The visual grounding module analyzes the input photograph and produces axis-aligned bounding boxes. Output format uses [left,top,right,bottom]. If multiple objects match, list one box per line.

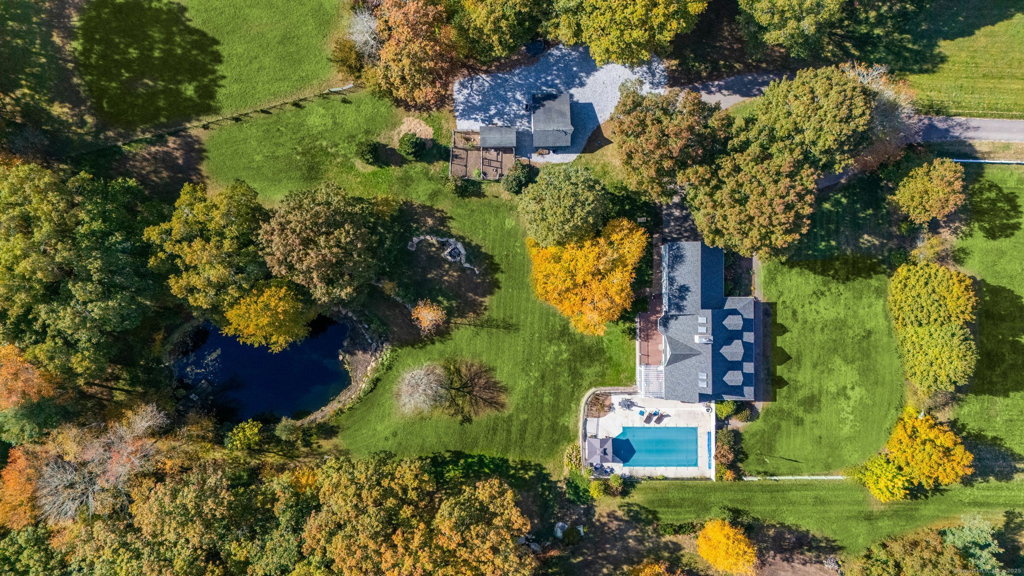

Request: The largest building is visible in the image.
[656,241,755,404]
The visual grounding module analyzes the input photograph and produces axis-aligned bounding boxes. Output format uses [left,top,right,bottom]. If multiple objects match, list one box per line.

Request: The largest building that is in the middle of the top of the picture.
[532,94,575,149]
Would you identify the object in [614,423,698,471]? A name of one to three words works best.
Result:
swimming pool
